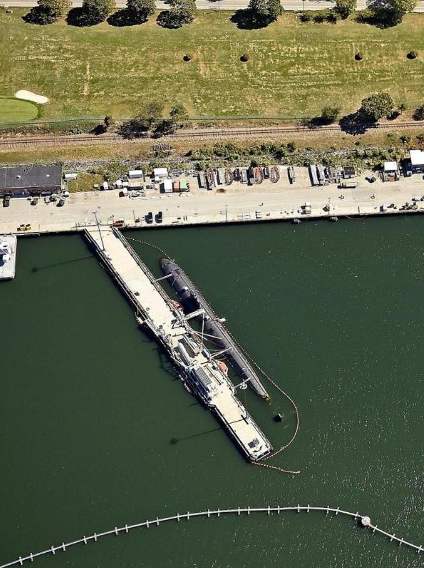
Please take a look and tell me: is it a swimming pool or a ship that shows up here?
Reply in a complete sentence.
Visible in the photo is a ship.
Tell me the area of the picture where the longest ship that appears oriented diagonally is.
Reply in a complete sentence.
The longest ship that appears oriented diagonally is located in the center region of the scene.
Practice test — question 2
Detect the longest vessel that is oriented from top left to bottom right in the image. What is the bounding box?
[162,260,280,420]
